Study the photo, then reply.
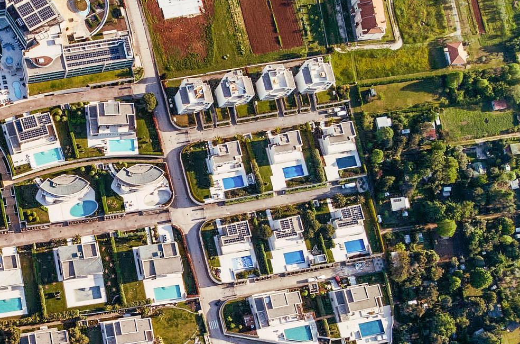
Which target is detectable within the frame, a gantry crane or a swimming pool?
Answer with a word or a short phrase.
swimming pool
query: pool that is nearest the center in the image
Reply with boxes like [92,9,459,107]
[228,170,252,189]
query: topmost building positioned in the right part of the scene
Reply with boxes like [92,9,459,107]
[348,0,386,43]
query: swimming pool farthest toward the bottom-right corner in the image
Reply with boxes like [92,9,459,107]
[357,319,385,339]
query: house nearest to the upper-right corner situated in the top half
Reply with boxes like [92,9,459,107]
[442,42,467,68]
